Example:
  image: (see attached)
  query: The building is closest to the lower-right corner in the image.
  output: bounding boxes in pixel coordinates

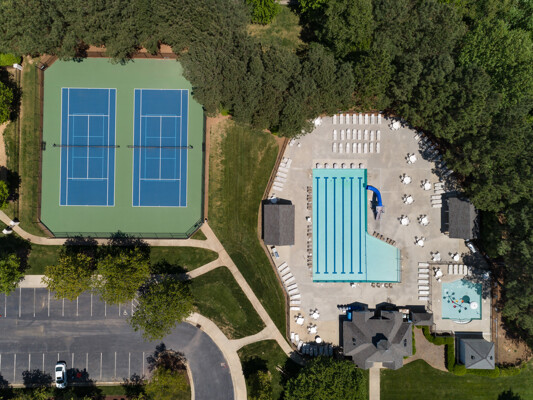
[460,336,496,370]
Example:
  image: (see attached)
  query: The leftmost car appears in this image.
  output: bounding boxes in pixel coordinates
[52,363,66,389]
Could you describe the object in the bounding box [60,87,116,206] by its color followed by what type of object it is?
blue tennis court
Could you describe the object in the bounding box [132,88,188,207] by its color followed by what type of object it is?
blue tennis court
